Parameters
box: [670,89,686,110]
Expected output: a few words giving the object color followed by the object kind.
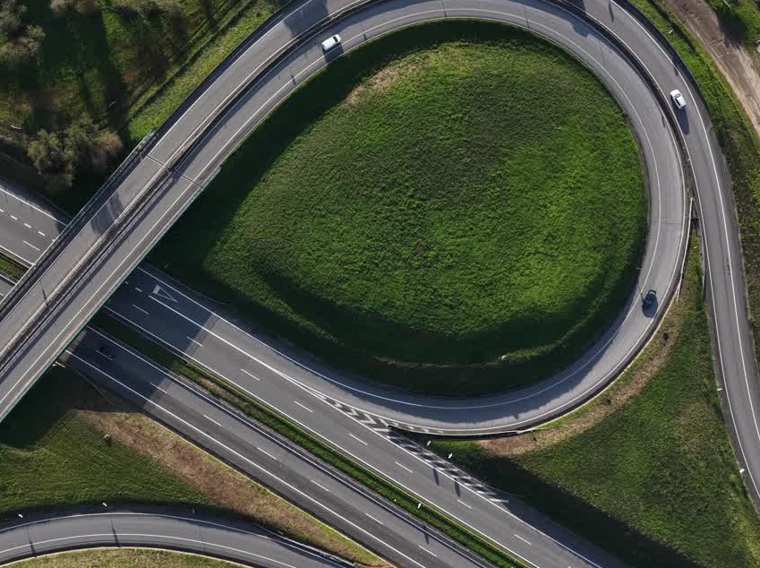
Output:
white car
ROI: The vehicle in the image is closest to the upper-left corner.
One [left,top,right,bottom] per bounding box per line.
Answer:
[319,35,343,52]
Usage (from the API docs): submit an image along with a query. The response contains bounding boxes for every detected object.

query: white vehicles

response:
[670,89,686,110]
[319,35,343,52]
